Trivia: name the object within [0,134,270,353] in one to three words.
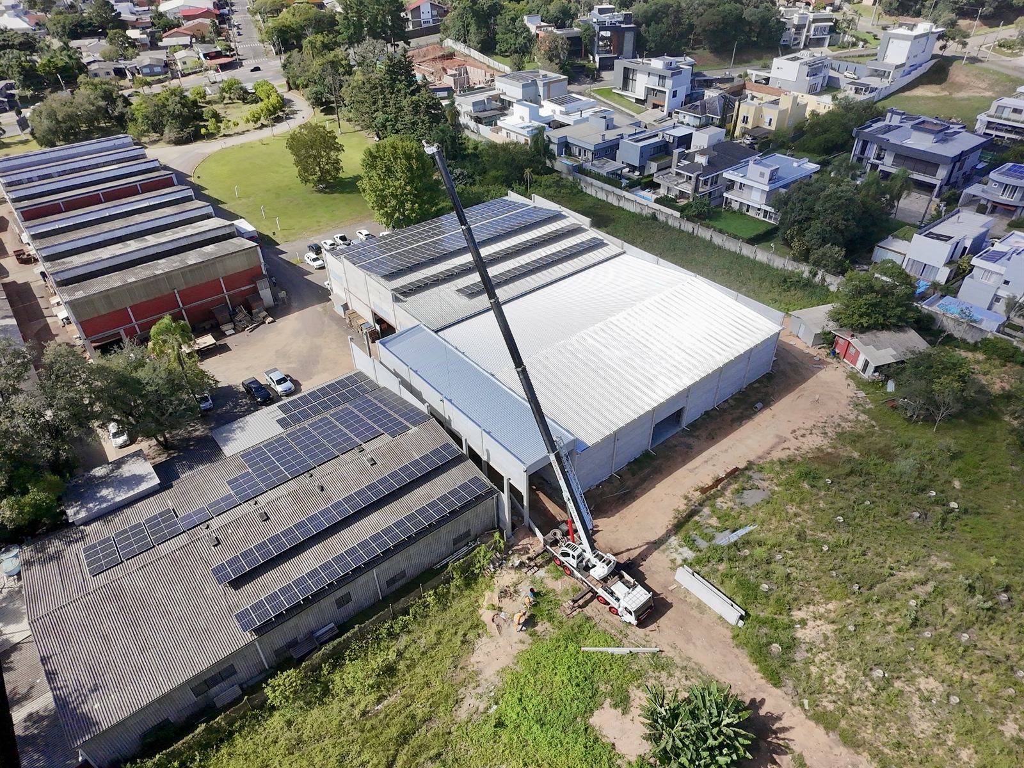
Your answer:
building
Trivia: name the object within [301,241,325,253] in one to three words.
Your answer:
vehicle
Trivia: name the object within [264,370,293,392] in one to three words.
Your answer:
truck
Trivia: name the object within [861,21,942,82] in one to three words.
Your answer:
house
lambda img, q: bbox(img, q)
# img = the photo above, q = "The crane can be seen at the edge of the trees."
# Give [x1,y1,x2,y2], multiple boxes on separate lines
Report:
[414,142,653,630]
